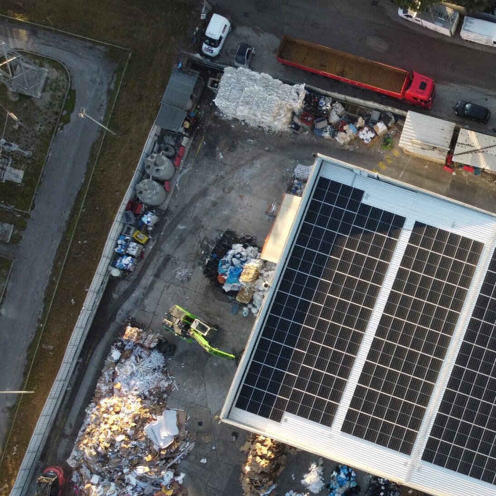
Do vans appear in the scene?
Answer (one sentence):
Yes, there's a van here.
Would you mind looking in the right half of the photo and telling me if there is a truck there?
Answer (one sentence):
Yes, looking in the right half of the photo, one can make out a truck.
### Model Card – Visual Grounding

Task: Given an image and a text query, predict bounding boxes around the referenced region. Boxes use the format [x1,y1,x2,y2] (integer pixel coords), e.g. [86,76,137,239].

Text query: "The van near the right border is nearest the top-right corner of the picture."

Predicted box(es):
[460,15,496,50]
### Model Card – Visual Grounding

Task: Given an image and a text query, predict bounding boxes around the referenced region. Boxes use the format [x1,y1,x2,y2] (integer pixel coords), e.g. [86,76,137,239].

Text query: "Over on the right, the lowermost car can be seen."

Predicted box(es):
[453,101,493,125]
